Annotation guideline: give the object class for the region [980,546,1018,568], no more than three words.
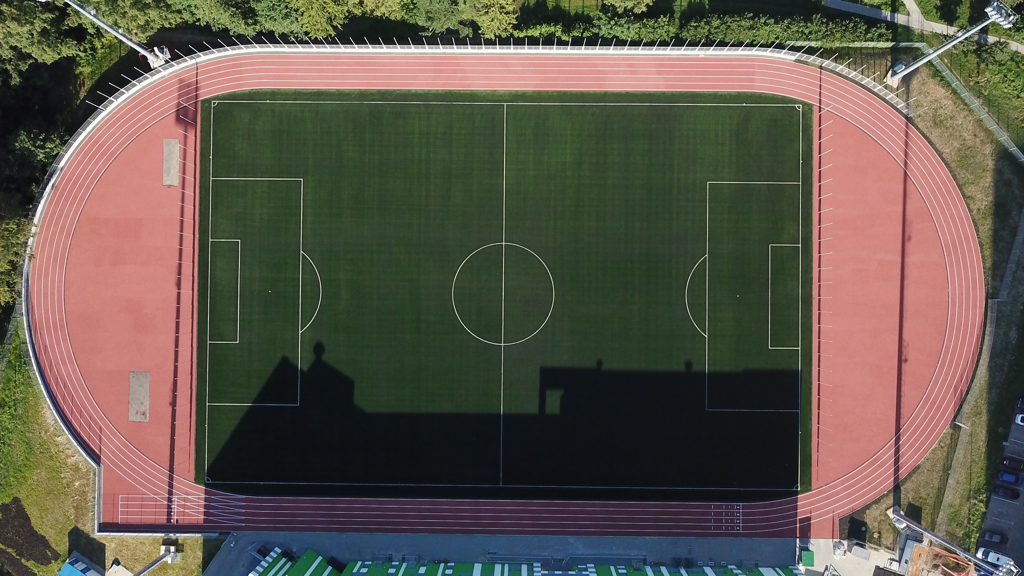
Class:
vehicle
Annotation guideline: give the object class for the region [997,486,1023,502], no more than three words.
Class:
car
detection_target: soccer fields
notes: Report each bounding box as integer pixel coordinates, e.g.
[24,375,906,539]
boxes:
[195,90,813,502]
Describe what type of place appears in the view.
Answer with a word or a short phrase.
sports ground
